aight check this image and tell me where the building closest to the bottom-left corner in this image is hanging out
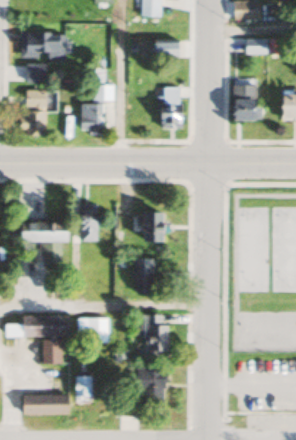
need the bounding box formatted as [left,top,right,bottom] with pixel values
[23,394,70,416]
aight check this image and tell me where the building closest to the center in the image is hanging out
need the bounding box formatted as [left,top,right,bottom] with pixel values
[141,212,170,248]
